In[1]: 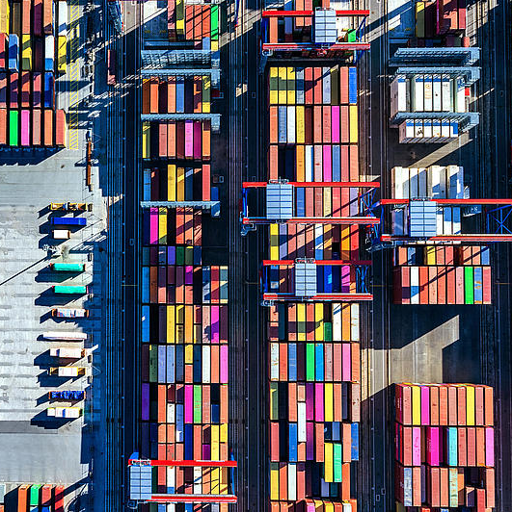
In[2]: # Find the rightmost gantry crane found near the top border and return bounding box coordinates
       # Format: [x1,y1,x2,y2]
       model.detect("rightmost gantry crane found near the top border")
[259,5,369,76]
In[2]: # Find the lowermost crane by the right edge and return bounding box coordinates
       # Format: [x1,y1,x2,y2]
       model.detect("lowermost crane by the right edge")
[365,195,512,257]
